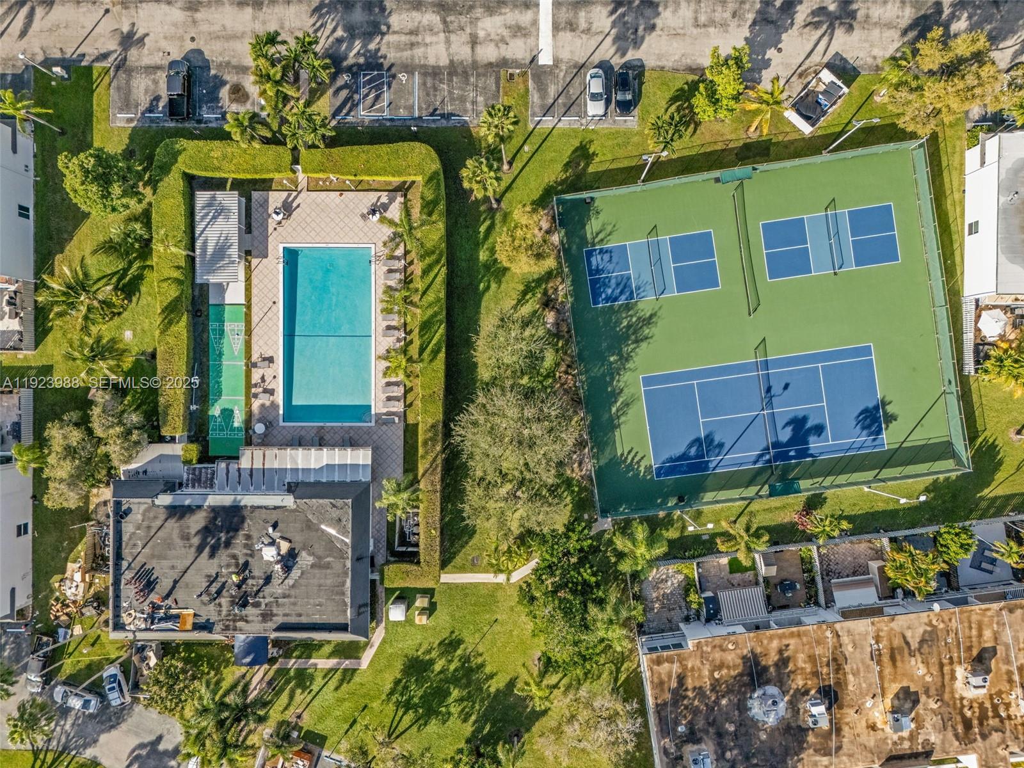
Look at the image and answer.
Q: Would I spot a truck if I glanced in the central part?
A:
No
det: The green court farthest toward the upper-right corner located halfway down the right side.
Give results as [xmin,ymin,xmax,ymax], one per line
[553,149,953,512]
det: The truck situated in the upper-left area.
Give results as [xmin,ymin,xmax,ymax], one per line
[160,58,188,118]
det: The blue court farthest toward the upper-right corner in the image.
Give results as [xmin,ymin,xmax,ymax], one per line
[760,203,901,281]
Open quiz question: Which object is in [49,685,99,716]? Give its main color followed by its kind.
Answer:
gray car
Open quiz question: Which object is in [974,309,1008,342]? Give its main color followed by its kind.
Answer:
white umbrella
